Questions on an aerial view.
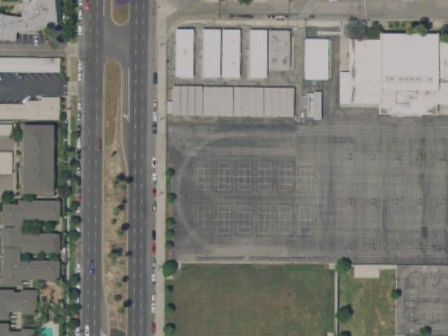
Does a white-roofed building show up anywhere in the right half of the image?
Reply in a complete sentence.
Yes, a white-roofed building can be seen in the right half of the image.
